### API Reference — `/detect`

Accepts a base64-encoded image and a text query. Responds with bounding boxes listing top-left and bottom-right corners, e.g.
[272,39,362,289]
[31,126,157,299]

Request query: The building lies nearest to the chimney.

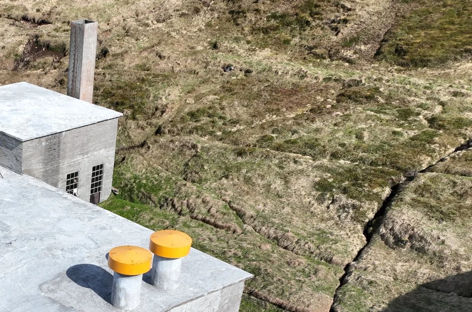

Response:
[0,83,123,204]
